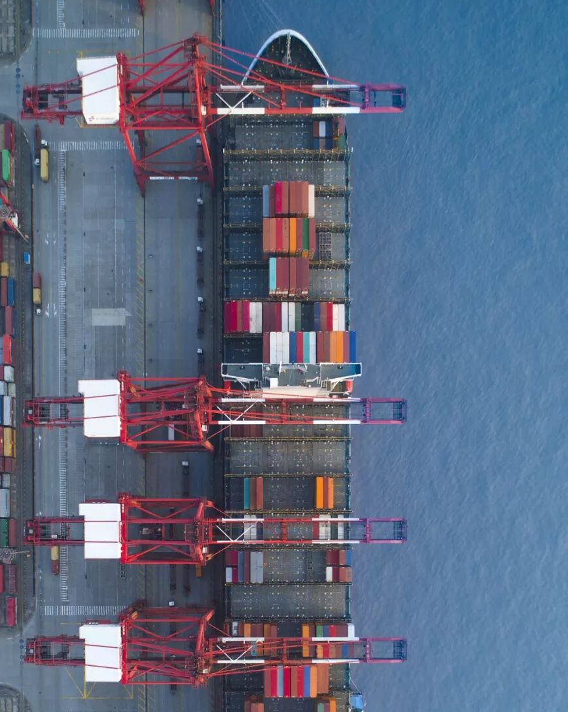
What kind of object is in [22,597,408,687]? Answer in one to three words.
container crane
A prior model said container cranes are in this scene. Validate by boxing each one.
[19,31,406,197]
[22,597,408,687]
[0,191,23,243]
[21,369,408,460]
[22,489,408,567]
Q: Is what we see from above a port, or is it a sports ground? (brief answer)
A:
port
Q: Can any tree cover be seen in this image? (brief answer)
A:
No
